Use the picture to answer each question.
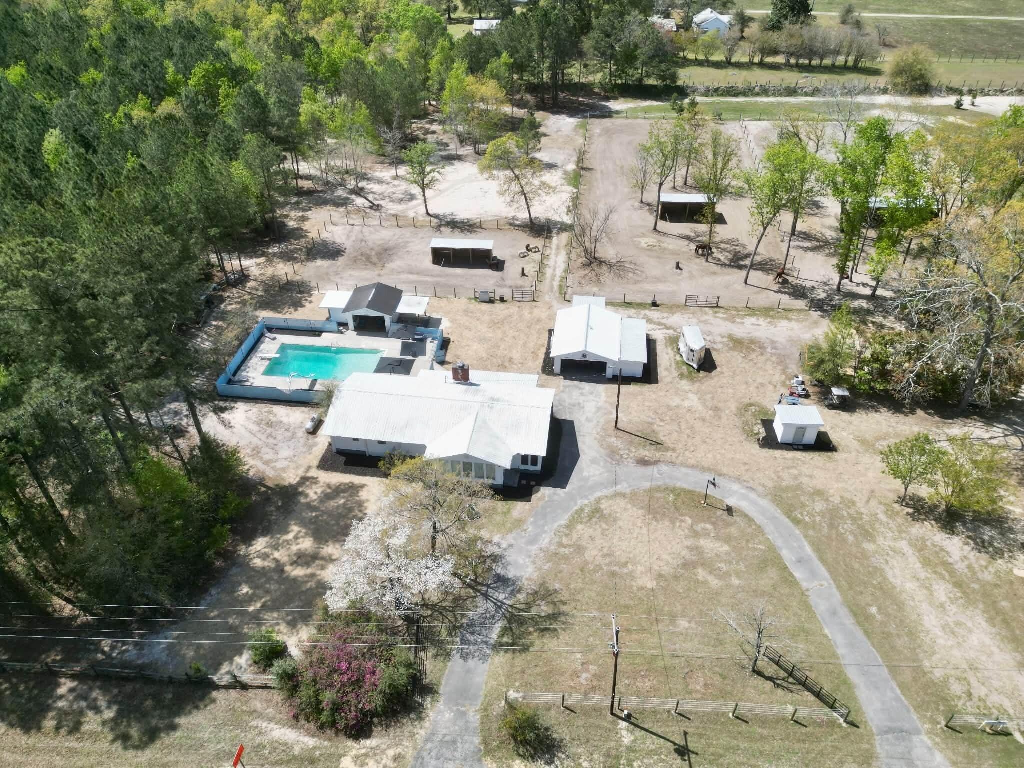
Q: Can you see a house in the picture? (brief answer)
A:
Yes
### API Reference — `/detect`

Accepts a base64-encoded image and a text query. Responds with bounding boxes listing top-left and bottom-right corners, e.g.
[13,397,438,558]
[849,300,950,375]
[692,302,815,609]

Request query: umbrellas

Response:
[386,319,416,343]
[374,356,415,376]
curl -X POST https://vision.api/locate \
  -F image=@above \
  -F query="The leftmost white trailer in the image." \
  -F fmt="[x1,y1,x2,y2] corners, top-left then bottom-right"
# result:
[677,326,705,372]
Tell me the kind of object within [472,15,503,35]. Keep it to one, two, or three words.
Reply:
barn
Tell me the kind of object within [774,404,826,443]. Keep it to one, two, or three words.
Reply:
shed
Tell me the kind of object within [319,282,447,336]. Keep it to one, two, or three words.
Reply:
building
